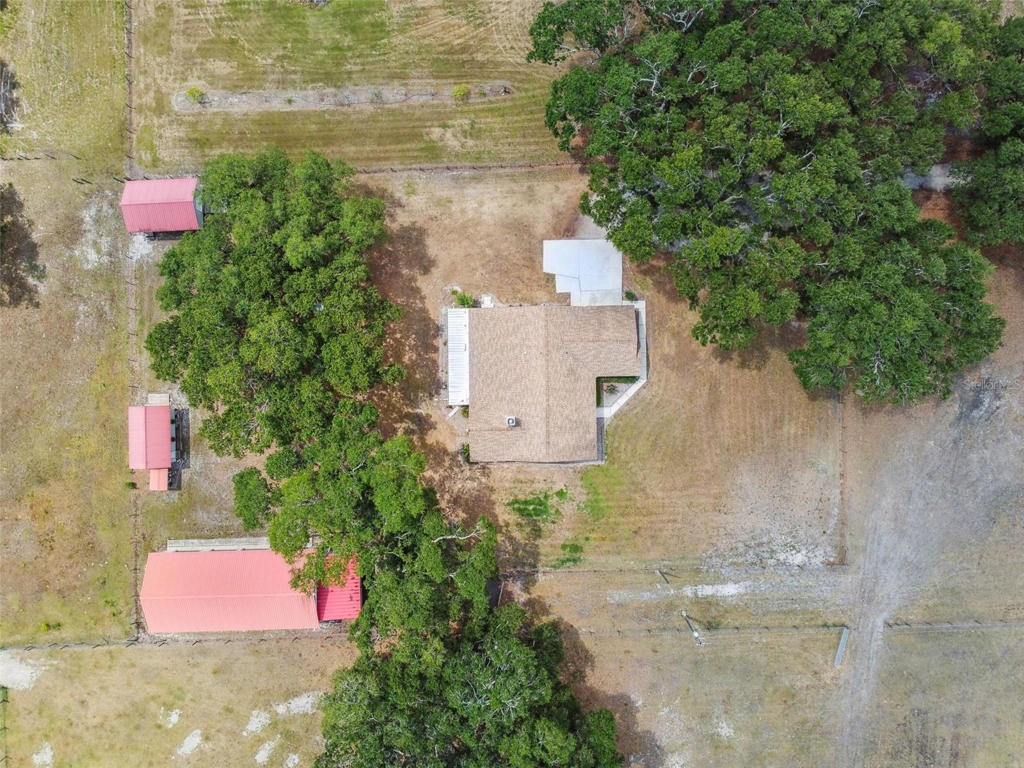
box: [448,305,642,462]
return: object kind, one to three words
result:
house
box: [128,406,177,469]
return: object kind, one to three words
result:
shed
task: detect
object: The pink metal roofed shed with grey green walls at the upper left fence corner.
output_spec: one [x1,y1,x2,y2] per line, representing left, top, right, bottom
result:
[121,178,226,233]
